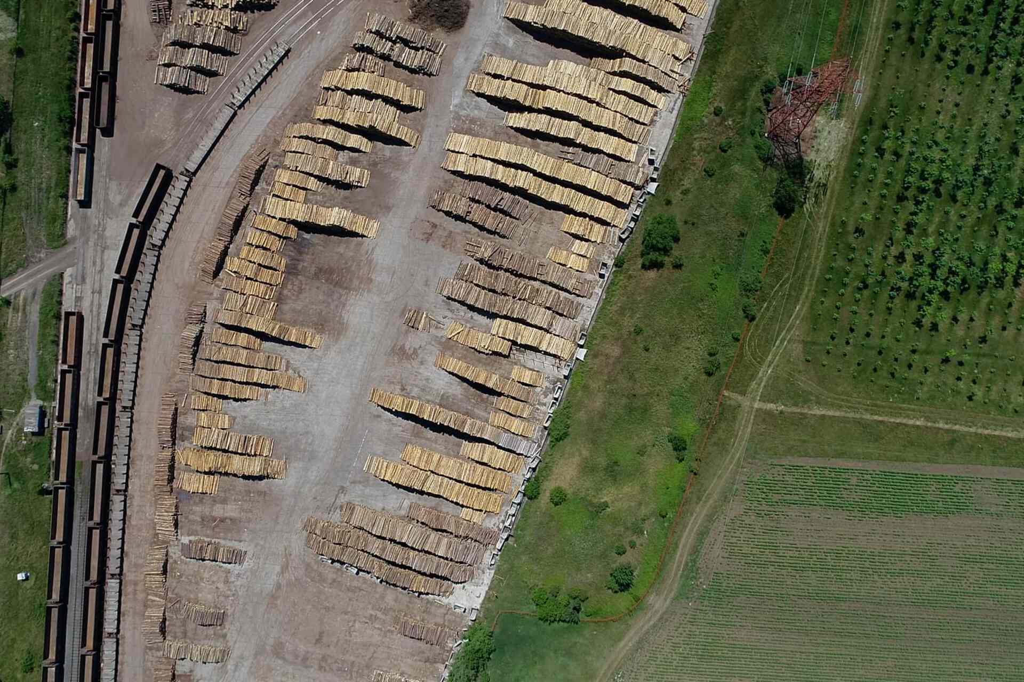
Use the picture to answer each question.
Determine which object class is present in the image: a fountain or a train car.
train car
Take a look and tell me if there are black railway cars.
Yes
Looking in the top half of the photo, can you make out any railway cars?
Yes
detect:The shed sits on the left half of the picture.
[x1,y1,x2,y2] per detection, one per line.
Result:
[24,404,47,432]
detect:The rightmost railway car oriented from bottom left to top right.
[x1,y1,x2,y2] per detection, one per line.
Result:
[229,40,291,108]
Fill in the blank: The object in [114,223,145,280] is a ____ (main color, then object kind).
black rail car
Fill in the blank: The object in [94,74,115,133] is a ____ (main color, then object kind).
black rail car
